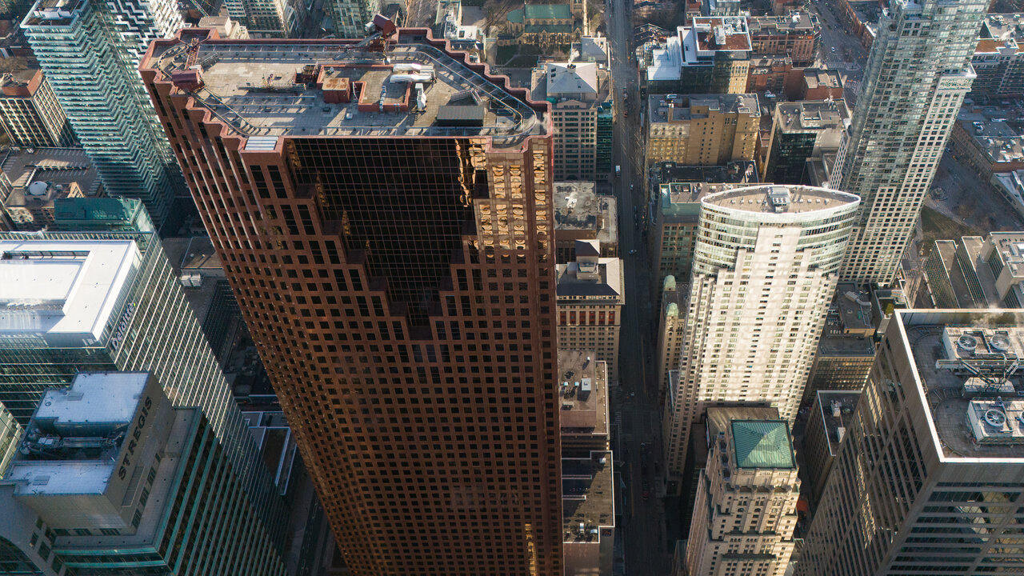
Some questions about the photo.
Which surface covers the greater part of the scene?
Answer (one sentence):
The bulk of the photo consists of buildings.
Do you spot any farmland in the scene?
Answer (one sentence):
No, there's no farmland in this view.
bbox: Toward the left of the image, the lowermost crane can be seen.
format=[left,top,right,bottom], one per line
[168,39,206,94]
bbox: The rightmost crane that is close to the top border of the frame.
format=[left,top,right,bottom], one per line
[327,16,400,56]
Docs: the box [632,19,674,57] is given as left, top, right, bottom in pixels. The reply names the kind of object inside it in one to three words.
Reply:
building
